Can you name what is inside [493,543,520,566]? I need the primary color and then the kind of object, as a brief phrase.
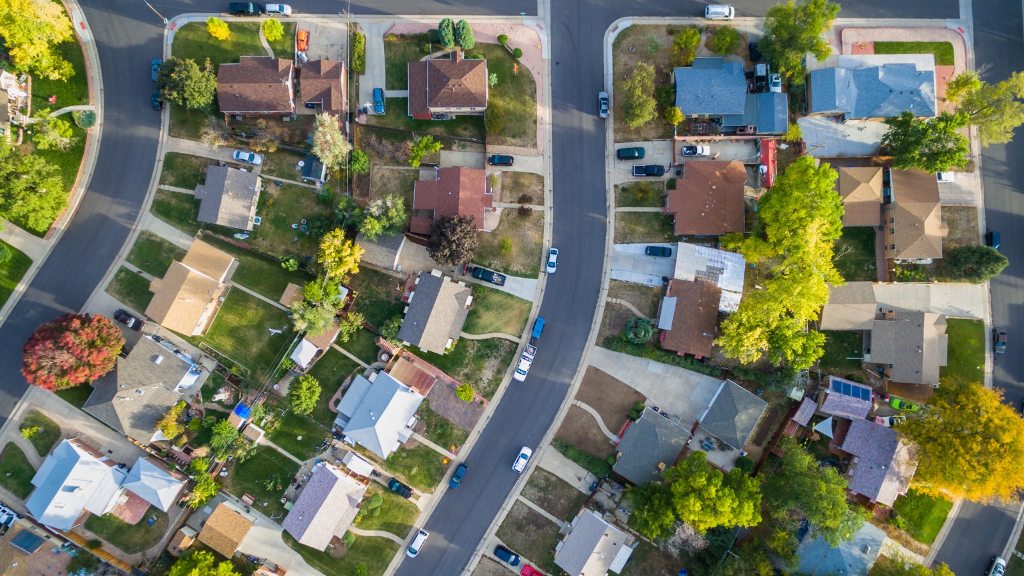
blue car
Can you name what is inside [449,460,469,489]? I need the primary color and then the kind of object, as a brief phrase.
blue car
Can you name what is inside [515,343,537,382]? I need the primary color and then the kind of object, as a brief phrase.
white truck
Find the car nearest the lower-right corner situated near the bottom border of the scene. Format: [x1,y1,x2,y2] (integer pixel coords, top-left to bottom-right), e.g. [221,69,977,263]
[984,553,1006,576]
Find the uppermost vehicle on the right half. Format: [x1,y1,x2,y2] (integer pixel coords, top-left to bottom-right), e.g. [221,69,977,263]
[703,4,735,20]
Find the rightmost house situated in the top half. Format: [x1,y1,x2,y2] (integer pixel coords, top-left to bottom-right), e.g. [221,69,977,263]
[882,168,951,258]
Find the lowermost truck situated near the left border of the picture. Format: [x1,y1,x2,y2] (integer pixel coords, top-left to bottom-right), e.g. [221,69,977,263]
[0,503,22,527]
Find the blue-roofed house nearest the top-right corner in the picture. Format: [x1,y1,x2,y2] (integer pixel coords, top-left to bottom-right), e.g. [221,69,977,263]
[807,63,936,121]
